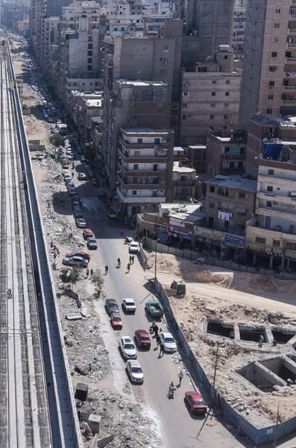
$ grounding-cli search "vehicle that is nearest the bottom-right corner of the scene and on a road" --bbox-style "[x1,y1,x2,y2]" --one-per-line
[182,392,212,418]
